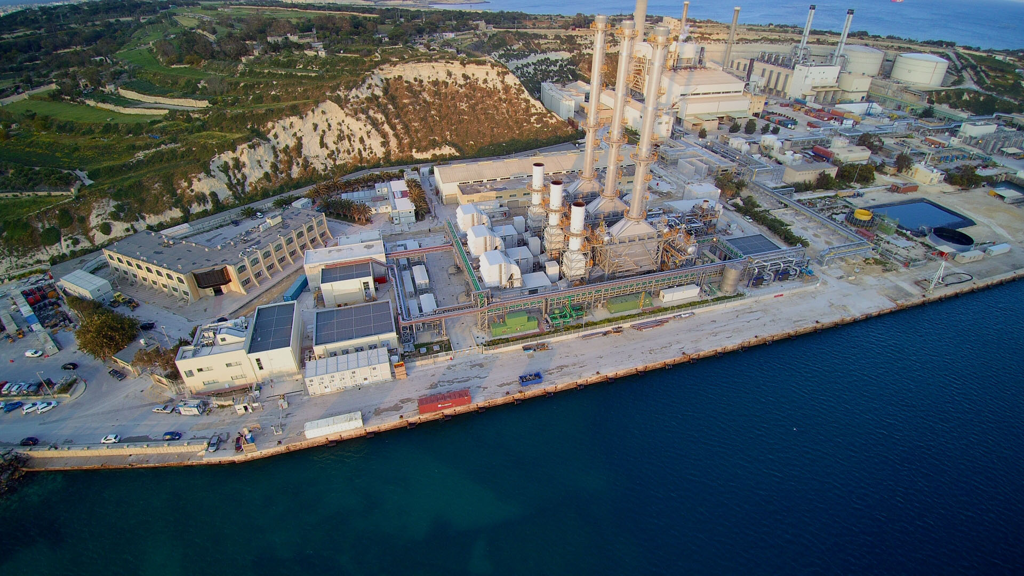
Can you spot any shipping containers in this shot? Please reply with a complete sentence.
Yes, the picture does show a shipping container.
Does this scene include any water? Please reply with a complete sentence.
Yes, water shows up in the scene.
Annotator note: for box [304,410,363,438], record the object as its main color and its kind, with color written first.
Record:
white shipping container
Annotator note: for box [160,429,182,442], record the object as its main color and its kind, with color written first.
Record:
blue vehicle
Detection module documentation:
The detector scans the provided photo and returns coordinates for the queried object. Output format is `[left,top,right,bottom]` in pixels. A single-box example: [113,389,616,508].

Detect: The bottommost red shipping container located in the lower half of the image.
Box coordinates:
[417,389,470,414]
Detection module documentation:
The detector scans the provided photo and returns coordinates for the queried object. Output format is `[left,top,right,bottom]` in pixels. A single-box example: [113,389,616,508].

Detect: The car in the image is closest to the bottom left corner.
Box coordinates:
[15,435,42,448]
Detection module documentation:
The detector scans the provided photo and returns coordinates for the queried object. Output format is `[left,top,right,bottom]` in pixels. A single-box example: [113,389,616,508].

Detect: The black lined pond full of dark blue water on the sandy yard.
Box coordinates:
[873,196,977,236]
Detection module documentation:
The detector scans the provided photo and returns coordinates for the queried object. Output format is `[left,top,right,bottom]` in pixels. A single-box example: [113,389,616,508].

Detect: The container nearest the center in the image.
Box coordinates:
[488,306,537,336]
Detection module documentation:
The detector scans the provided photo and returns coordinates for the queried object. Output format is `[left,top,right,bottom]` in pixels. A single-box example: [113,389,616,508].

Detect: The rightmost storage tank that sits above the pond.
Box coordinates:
[889,54,956,84]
